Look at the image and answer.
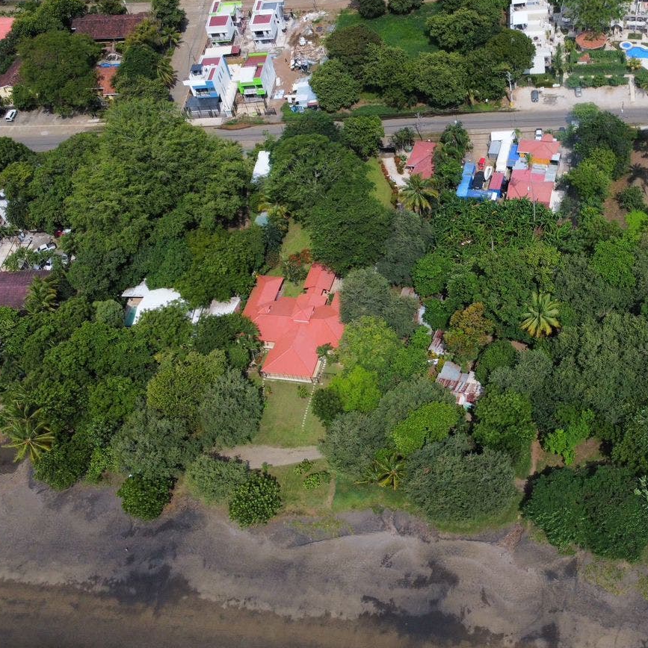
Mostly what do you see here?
trees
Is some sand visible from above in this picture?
Yes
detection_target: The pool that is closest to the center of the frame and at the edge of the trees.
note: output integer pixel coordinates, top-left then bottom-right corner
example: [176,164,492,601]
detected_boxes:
[125,302,139,322]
